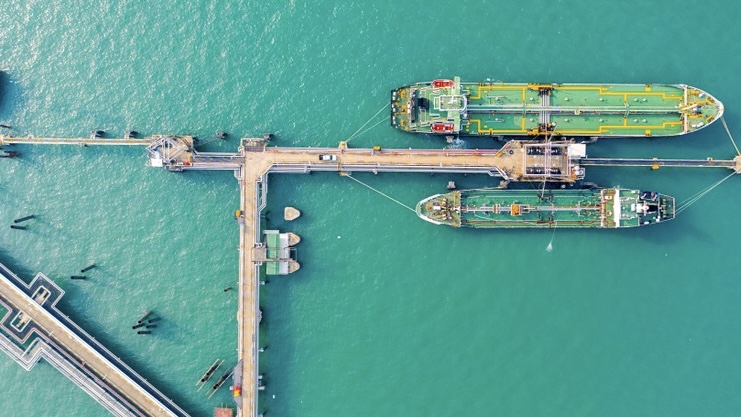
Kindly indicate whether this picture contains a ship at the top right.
Yes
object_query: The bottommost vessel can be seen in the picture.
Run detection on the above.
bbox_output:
[417,189,674,228]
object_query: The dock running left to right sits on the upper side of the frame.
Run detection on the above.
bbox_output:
[261,145,499,177]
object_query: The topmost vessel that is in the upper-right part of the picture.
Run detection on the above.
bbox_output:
[391,76,724,138]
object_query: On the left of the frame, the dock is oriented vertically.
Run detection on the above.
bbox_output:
[229,138,273,417]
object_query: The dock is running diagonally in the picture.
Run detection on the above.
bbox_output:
[0,264,195,417]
